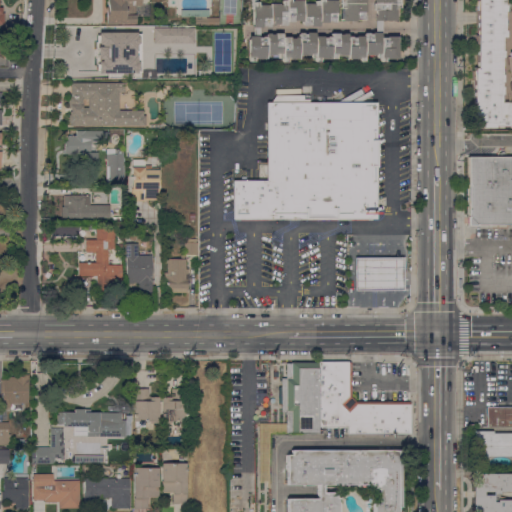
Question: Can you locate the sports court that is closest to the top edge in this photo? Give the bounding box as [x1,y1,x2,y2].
[220,0,242,24]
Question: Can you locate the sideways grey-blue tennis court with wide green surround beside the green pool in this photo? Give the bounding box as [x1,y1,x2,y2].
[164,97,236,128]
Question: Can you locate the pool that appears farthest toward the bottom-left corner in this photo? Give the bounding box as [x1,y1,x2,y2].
[12,452,27,474]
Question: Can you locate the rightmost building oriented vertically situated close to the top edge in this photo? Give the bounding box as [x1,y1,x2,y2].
[476,0,512,127]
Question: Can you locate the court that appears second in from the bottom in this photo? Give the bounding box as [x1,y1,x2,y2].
[214,32,232,74]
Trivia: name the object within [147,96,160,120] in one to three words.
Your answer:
swimming pool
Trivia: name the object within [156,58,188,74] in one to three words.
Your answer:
swimming pool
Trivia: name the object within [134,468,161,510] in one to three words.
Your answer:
house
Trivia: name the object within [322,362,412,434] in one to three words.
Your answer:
building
